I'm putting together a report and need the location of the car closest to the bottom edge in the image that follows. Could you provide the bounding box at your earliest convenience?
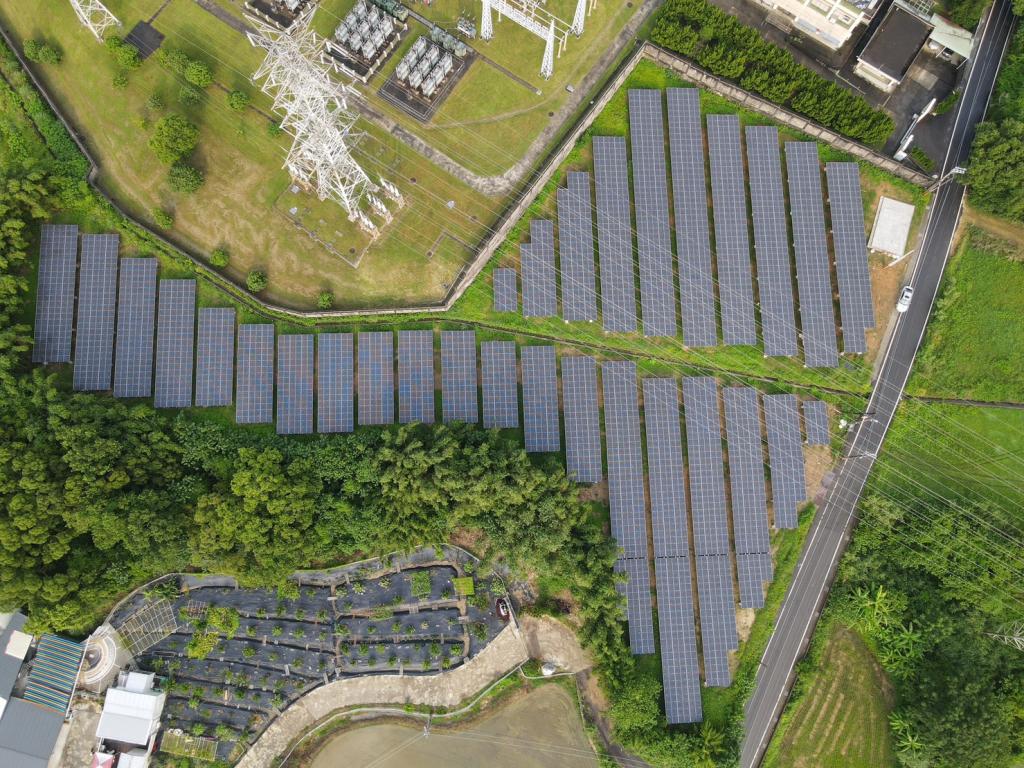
[892,286,911,312]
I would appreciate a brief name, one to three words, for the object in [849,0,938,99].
house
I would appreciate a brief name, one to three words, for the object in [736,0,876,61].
building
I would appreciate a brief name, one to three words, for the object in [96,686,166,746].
house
